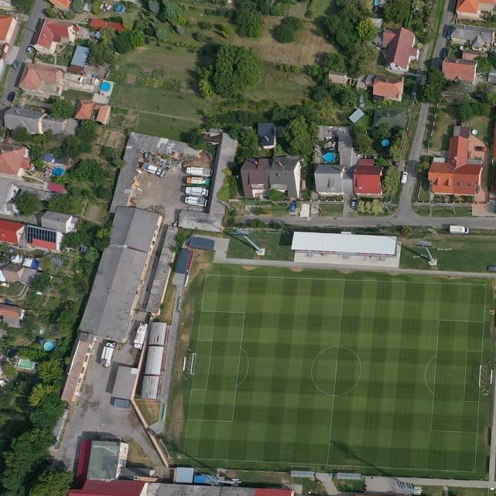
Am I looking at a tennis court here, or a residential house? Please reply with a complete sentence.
It is a residential house that can be seen here.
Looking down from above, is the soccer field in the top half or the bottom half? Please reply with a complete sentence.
It is in the bottom half that the soccer field appears.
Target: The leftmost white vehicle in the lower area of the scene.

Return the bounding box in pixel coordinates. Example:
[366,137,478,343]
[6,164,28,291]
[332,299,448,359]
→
[101,342,115,369]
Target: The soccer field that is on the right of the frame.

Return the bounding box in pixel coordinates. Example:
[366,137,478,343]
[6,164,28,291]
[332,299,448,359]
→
[173,264,496,479]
